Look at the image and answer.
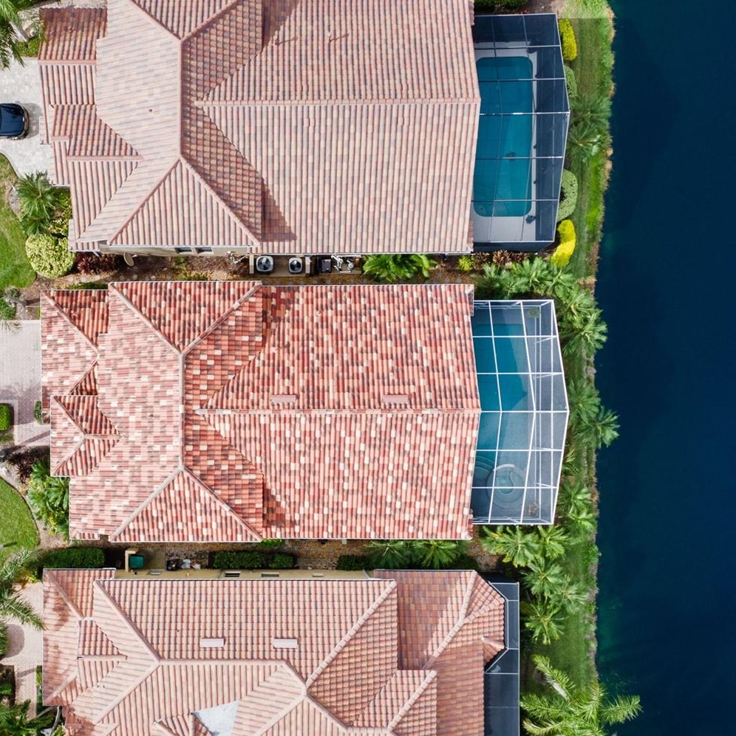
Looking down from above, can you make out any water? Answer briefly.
Yes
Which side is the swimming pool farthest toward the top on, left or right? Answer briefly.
right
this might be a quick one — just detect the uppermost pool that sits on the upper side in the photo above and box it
[475,54,534,219]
